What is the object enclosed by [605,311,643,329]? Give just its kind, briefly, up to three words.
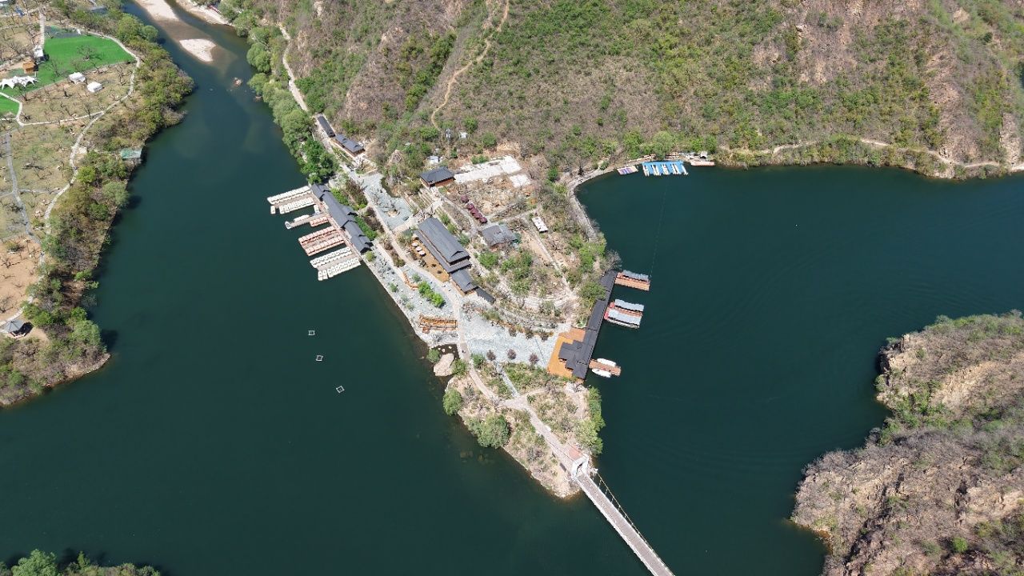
boat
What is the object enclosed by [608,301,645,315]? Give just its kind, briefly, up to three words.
boat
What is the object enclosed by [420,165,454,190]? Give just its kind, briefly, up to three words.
house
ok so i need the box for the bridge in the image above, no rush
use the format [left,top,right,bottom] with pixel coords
[556,447,674,576]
